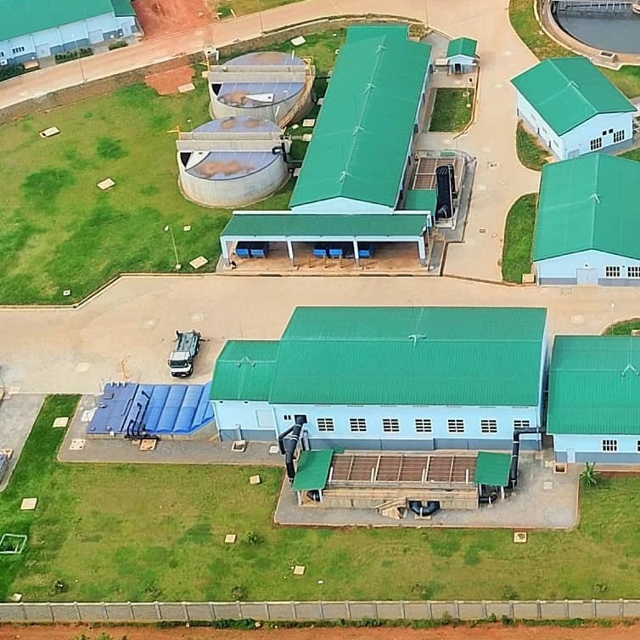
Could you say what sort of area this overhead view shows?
industrial area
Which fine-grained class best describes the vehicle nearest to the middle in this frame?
truck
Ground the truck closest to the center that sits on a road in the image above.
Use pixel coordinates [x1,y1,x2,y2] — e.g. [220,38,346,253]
[160,319,214,373]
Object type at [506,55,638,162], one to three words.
building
